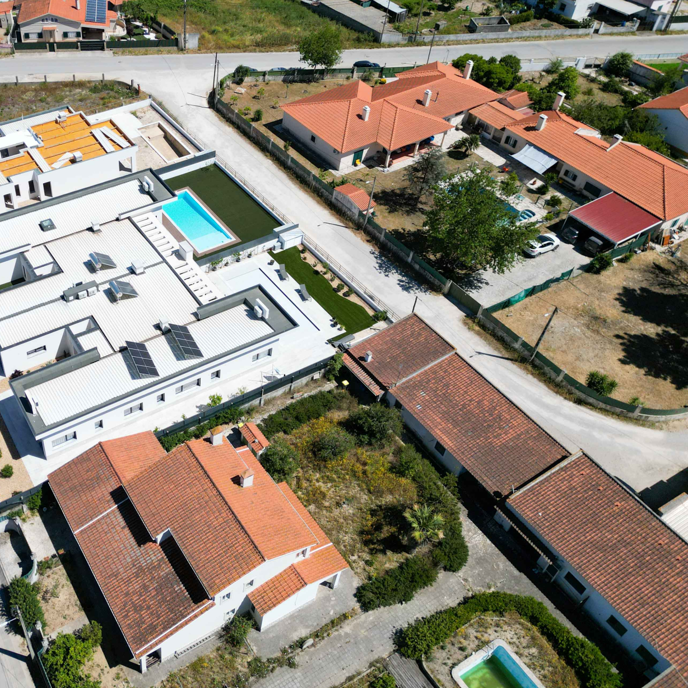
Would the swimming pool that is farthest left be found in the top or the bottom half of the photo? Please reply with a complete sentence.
The top half of the photo is where the swimming pool that is farthest left is.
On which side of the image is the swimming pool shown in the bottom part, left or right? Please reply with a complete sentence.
The swimming pool shown in the bottom part sits on the right side.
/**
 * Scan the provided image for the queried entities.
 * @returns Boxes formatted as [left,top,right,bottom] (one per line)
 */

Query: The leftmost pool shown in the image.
[137,123,190,161]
